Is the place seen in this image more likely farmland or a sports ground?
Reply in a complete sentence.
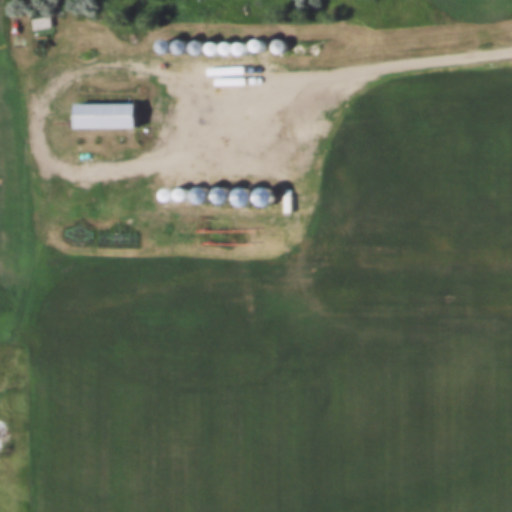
The area seen from above is farmland.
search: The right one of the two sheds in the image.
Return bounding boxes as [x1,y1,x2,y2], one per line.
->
[72,104,134,130]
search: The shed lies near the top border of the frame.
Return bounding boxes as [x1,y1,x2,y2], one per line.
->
[32,18,54,37]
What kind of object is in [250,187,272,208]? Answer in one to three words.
silo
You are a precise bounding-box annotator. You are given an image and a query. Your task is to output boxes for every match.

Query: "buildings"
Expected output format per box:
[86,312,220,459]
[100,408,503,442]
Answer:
[32,18,54,37]
[72,104,134,130]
